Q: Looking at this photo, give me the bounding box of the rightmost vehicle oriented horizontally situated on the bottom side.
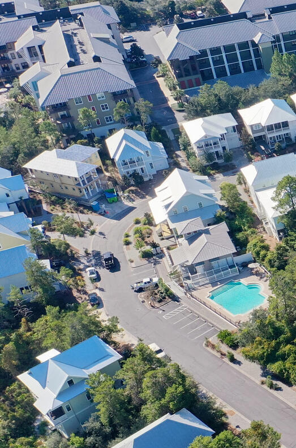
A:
[129,273,160,289]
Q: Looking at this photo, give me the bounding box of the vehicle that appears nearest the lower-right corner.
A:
[142,335,167,359]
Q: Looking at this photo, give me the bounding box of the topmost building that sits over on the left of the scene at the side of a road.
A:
[0,19,146,142]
